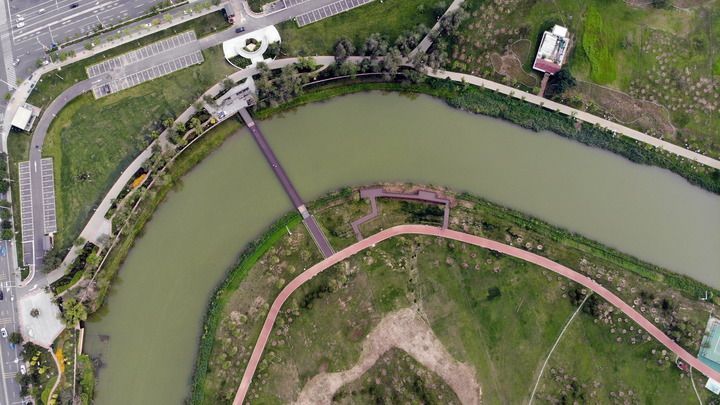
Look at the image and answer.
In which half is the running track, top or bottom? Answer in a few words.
bottom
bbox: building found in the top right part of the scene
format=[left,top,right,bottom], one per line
[530,25,570,77]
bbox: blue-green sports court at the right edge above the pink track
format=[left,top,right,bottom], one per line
[699,315,720,372]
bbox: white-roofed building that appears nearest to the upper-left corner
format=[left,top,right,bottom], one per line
[12,107,39,131]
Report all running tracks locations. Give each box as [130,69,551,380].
[233,224,720,405]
